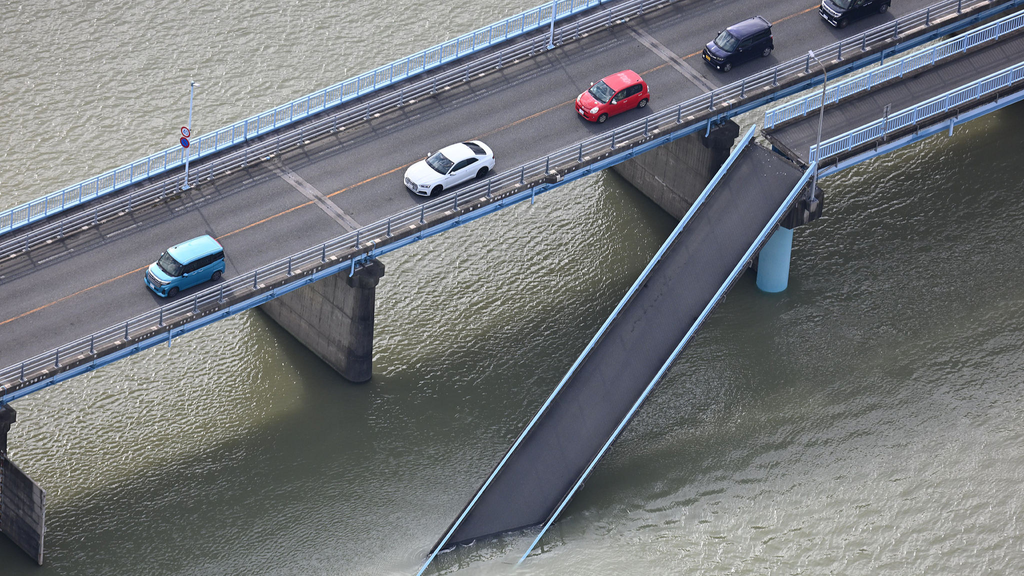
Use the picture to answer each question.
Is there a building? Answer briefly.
No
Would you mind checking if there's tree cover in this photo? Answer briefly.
No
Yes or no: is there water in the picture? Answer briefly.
Yes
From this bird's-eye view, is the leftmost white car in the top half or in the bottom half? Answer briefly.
top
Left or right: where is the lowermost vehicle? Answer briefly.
left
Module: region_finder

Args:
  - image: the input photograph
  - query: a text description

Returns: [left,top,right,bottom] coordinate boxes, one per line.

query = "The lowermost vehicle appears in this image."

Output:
[142,235,225,298]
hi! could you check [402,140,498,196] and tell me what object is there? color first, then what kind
white car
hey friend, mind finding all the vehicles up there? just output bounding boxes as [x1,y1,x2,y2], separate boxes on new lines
[402,140,498,196]
[573,68,651,124]
[701,15,773,73]
[818,0,889,28]
[142,235,225,298]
